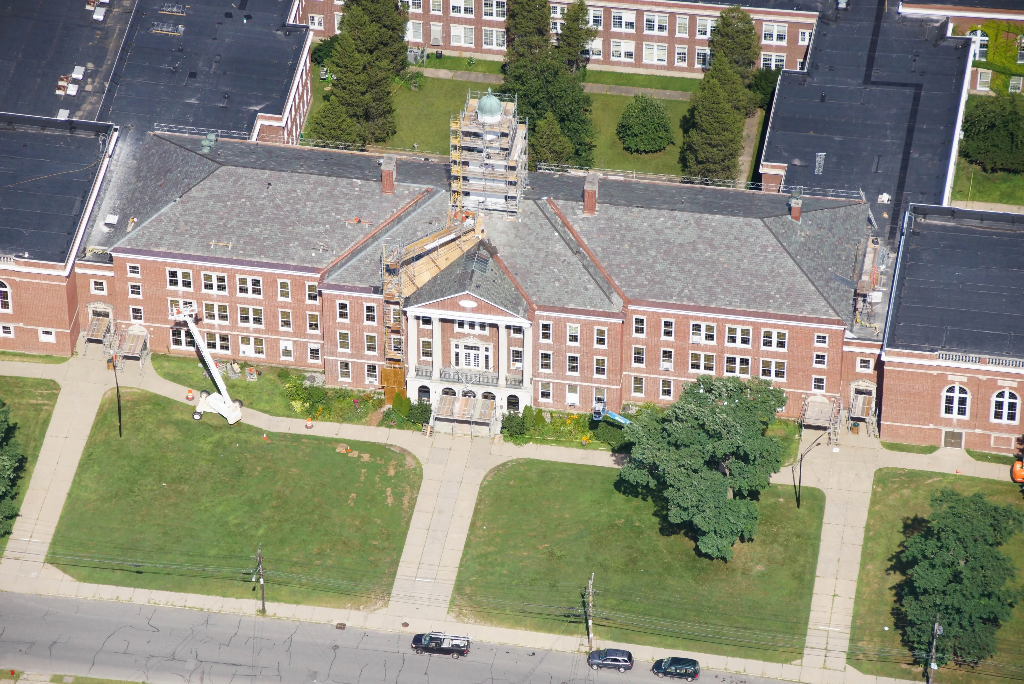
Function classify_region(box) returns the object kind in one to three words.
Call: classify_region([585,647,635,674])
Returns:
car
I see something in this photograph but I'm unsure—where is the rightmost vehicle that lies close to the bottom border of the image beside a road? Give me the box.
[649,655,702,683]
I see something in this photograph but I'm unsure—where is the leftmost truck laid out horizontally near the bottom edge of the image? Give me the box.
[411,629,474,660]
